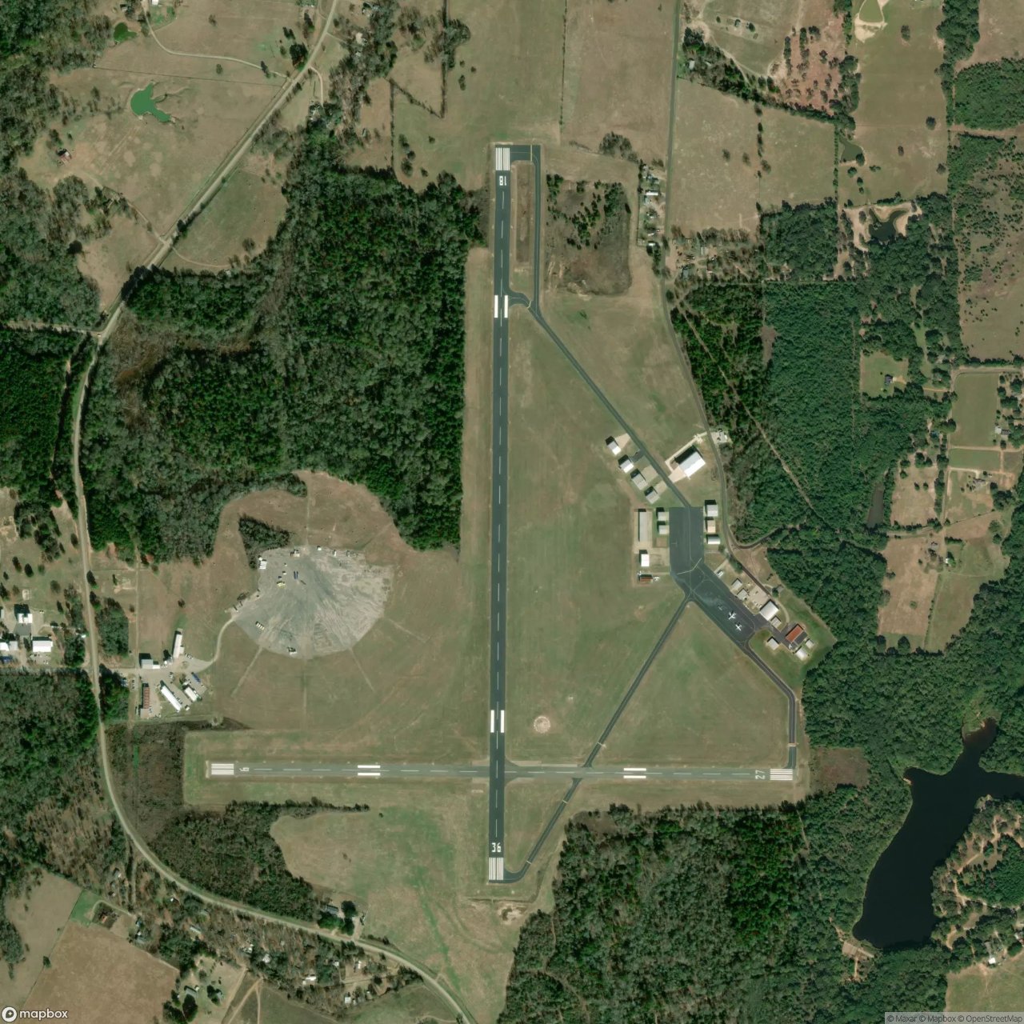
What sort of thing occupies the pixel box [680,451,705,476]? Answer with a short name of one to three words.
hangar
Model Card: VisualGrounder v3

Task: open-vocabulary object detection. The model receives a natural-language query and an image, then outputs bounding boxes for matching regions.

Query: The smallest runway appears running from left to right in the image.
[210,764,794,780]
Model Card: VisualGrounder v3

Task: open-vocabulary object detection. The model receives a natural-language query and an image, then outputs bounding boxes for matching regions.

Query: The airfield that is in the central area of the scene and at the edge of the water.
[210,145,809,883]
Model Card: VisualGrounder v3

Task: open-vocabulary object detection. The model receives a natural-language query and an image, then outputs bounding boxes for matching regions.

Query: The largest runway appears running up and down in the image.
[489,145,510,882]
